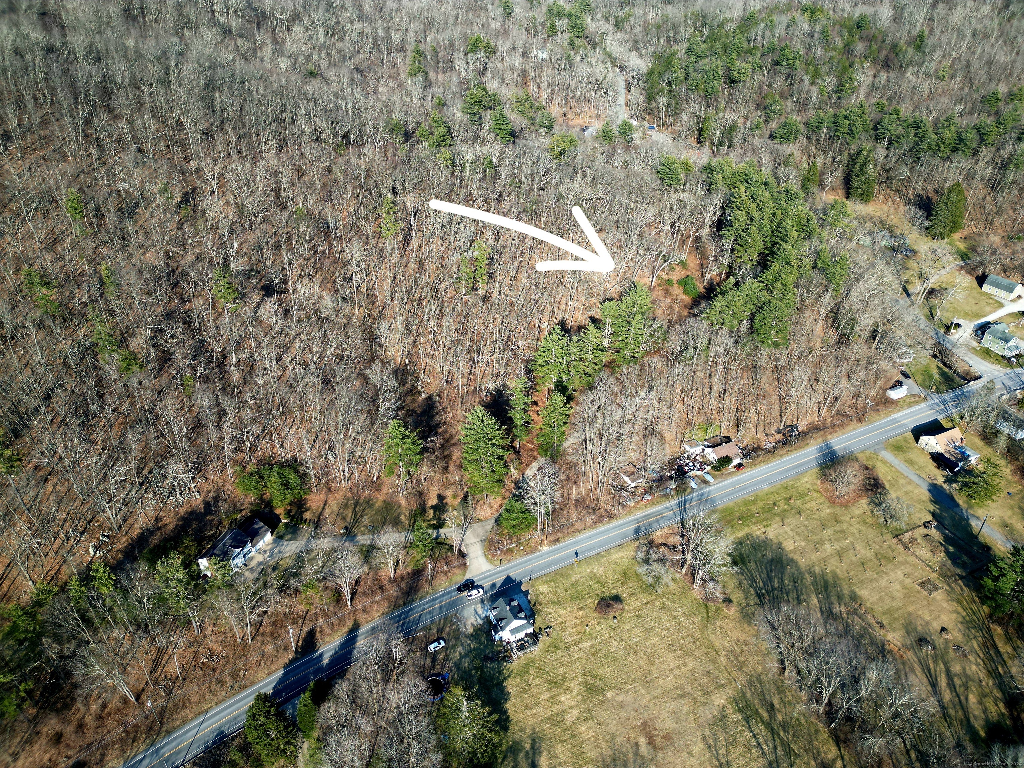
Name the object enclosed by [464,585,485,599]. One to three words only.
vehicle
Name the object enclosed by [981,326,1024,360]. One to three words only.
building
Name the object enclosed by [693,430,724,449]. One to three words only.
shed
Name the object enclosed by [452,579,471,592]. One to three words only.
vehicle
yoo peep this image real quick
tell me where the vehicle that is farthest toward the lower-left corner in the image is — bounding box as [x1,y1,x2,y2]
[426,638,446,653]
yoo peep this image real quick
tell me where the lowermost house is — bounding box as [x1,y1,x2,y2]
[489,595,539,669]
